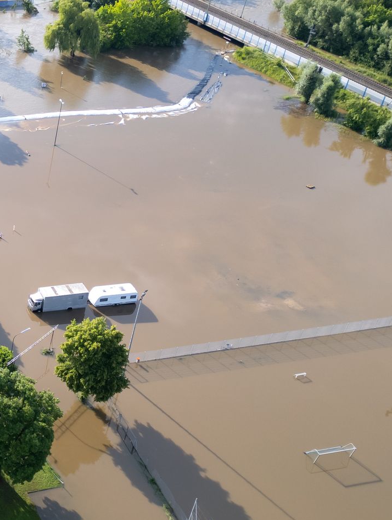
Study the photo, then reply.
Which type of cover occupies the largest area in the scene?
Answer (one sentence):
The scene is dominated by water.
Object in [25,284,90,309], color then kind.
white truck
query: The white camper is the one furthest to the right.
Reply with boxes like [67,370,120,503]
[89,283,138,305]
